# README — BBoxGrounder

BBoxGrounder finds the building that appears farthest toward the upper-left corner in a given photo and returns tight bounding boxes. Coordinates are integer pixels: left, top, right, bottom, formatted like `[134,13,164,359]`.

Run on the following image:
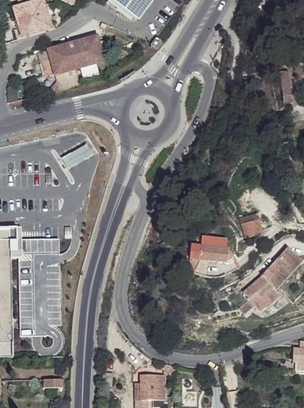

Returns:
[12,0,54,35]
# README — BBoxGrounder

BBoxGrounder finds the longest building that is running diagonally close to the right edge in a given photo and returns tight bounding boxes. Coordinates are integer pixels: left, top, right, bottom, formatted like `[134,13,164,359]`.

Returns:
[240,247,304,314]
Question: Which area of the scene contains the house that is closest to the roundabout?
top left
